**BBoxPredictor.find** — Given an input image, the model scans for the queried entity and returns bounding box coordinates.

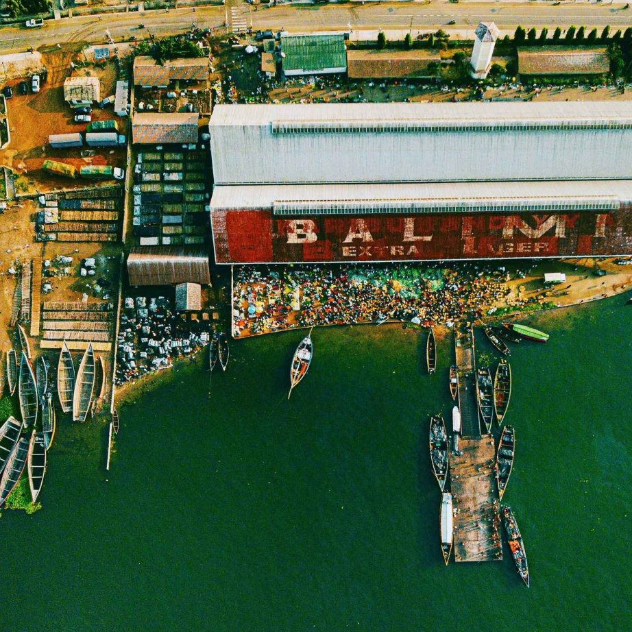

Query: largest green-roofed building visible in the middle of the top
[283,30,348,79]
